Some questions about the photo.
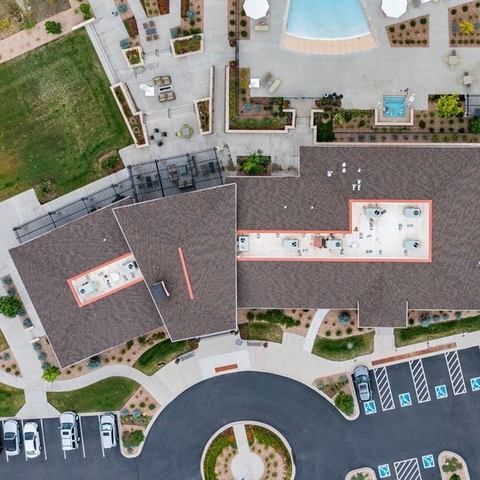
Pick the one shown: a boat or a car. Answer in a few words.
car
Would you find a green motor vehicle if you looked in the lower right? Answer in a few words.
No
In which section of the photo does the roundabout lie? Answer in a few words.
bottom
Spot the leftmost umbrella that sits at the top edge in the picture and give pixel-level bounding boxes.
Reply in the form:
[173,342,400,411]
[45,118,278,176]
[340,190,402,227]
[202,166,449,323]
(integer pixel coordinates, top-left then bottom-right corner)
[243,0,269,19]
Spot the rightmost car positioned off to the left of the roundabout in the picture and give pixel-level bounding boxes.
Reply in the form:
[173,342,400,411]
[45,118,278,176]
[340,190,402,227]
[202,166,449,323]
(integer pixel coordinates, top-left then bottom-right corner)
[98,412,119,449]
